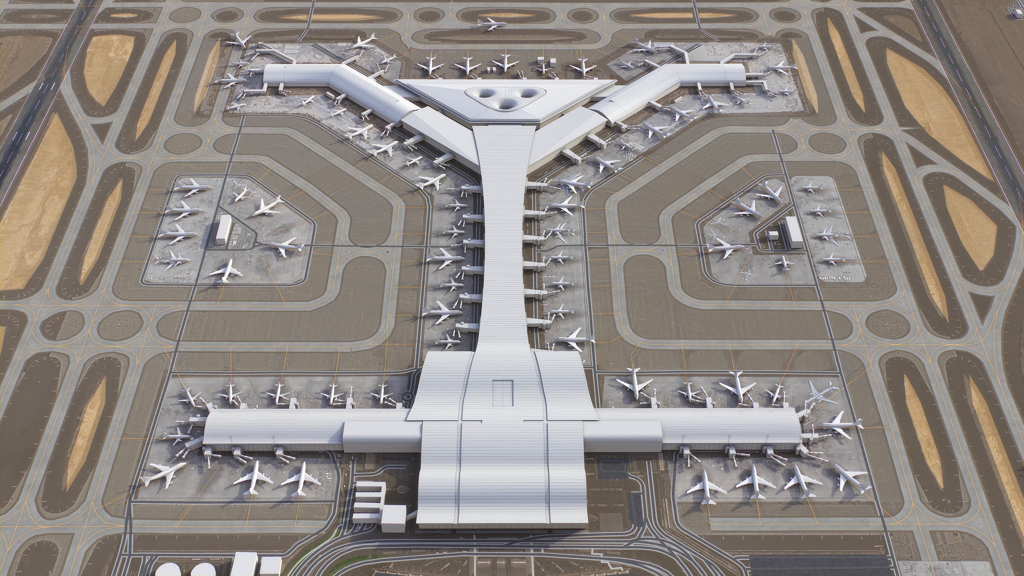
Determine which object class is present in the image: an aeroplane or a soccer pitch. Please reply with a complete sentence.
I can see an aeroplane in this picture.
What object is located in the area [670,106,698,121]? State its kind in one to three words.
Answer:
airplane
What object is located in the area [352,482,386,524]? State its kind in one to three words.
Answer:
building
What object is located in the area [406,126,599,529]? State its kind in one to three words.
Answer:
building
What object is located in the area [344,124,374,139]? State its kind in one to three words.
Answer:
airplane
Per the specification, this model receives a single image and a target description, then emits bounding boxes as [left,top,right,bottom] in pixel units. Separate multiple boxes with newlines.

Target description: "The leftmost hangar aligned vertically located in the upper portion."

[216,215,232,245]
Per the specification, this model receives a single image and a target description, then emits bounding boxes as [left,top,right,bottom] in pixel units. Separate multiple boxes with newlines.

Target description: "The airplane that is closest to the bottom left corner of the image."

[140,462,186,488]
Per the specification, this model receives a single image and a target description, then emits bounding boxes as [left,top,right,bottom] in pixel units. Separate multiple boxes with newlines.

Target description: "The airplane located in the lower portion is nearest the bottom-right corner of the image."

[832,463,873,492]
